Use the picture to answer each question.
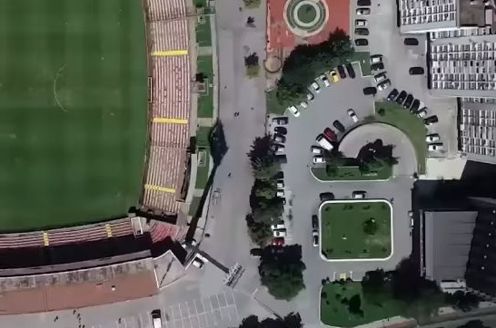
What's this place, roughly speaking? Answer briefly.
sports ground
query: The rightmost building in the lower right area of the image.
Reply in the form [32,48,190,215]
[450,192,496,291]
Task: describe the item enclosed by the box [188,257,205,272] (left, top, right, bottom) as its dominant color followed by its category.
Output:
white vehicle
